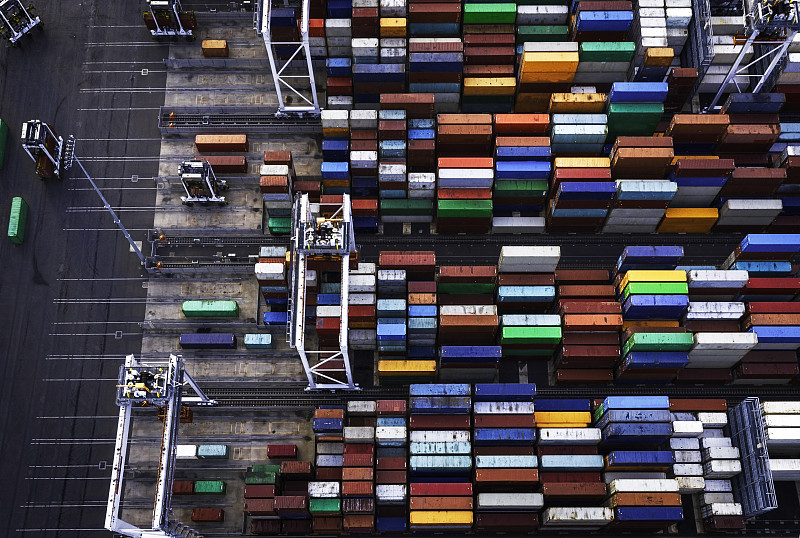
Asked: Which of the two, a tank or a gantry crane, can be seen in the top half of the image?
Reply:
gantry crane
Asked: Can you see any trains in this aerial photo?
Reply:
No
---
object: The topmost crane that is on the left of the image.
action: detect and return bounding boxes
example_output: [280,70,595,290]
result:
[254,0,327,116]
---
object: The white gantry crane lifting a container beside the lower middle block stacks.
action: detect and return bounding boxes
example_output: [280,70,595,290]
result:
[288,194,365,392]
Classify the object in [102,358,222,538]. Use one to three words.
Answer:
container crane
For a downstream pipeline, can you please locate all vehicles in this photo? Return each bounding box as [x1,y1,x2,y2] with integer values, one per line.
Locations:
[0,0,44,45]
[15,118,65,176]
[173,156,227,205]
[143,0,194,40]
